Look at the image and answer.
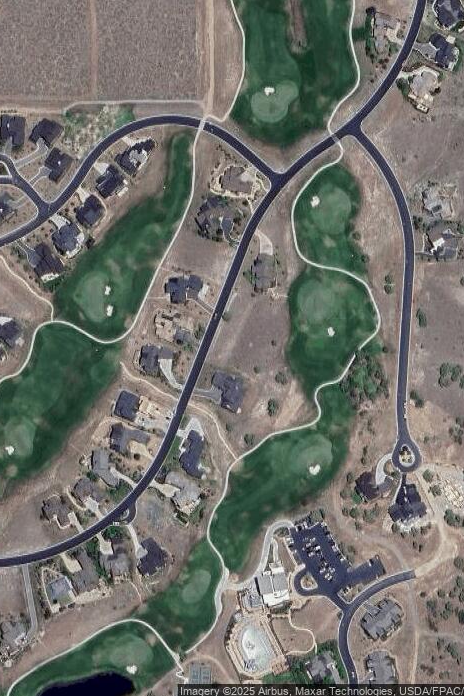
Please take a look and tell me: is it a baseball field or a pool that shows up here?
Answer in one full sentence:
There is a pool in the scene.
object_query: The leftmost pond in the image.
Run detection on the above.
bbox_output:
[40,672,135,696]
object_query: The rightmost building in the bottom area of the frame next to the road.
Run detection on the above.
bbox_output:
[389,481,431,523]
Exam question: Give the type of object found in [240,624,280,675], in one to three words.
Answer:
swimming pool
